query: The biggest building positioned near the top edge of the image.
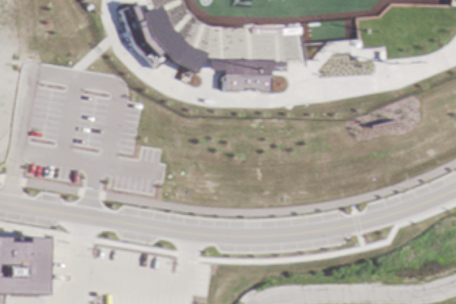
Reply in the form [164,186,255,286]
[116,4,166,67]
